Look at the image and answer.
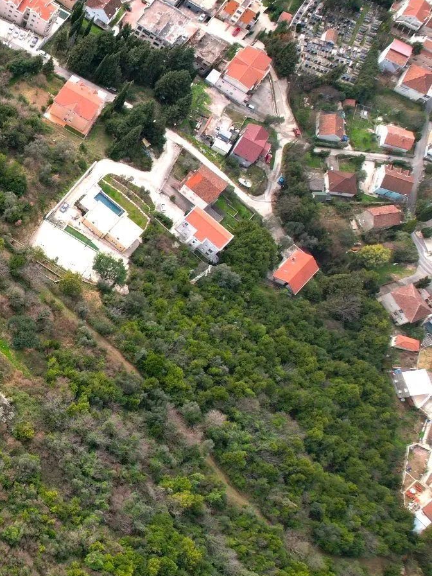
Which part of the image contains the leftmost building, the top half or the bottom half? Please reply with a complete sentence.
The top half of the photo is where the leftmost building is.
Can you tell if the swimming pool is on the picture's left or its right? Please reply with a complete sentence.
The swimming pool appears in the left half of the scene.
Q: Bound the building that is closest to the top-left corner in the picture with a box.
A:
[0,0,63,36]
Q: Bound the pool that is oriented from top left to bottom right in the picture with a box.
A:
[94,191,126,218]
